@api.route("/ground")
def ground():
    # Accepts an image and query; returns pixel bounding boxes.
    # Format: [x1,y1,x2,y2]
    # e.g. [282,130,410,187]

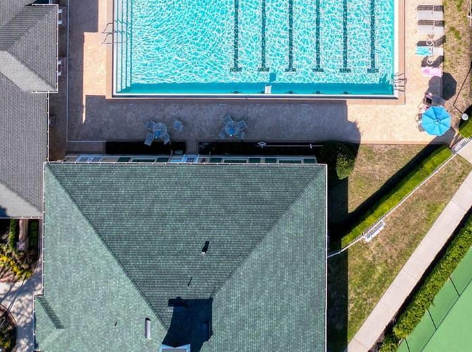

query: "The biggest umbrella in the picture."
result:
[418,103,453,137]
